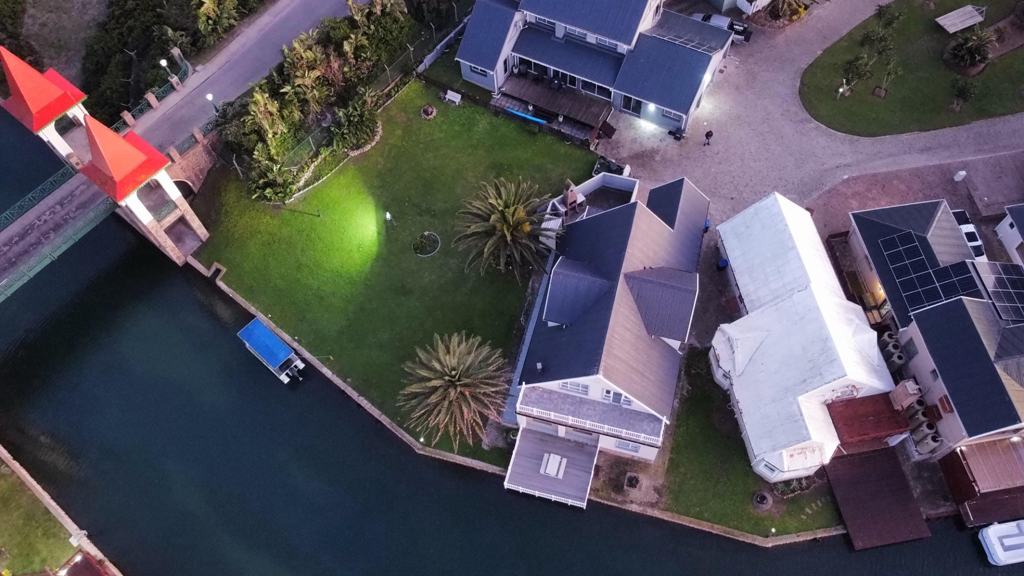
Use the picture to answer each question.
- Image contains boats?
Yes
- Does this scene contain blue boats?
Yes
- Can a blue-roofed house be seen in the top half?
Yes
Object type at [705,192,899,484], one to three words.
house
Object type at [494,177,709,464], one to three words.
house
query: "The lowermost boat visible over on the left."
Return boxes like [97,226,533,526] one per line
[238,318,312,390]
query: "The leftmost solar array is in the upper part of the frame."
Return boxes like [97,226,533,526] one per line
[652,30,721,57]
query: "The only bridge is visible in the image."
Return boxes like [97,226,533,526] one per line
[0,161,123,314]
